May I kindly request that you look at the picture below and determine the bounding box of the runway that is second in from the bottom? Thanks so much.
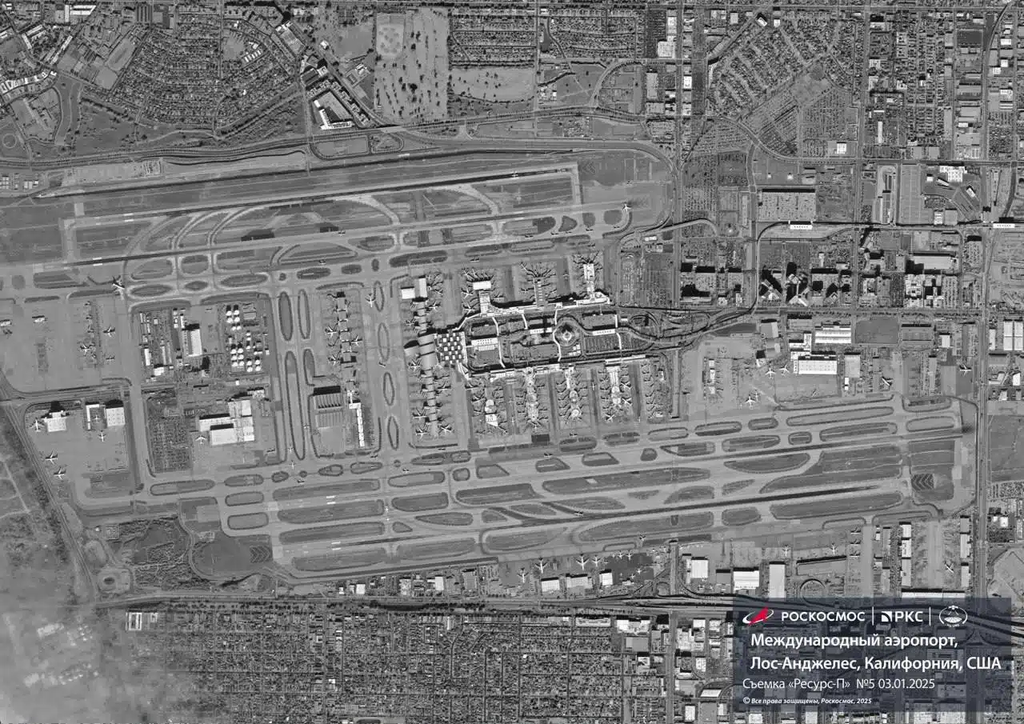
[266,431,965,511]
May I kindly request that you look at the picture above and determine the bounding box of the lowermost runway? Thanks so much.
[272,480,909,558]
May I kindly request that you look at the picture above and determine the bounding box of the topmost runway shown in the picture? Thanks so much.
[67,164,579,228]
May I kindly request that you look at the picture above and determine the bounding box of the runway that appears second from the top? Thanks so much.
[34,198,641,273]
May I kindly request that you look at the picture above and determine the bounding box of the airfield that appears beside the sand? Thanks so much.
[0,144,978,598]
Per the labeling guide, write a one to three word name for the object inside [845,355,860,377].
building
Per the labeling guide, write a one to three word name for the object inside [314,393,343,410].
hangar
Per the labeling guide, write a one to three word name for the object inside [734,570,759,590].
building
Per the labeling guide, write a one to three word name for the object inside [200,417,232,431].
hangar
